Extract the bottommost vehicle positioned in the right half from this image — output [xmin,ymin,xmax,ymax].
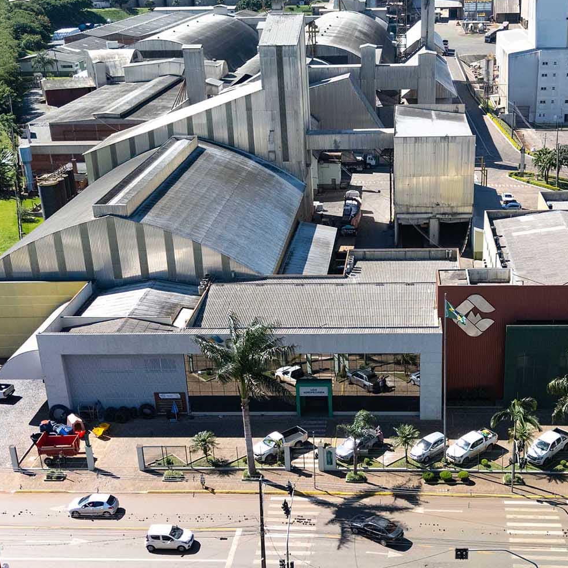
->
[346,515,409,547]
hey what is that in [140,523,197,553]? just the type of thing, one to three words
car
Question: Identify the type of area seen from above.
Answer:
industrial area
